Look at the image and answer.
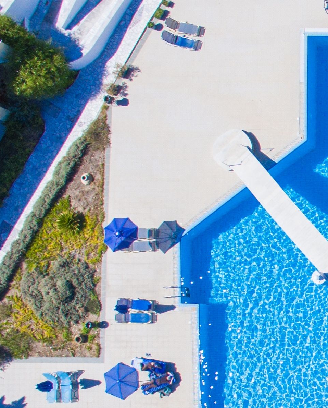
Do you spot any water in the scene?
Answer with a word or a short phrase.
Yes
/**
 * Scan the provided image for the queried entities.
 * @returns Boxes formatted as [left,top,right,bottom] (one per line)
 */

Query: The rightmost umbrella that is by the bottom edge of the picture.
[105,361,144,399]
